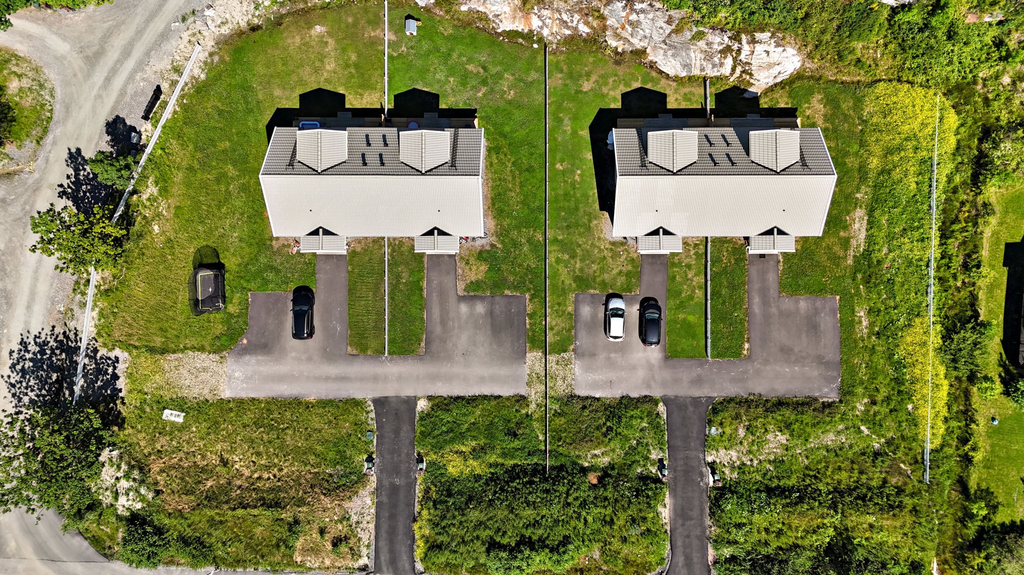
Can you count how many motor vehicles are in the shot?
three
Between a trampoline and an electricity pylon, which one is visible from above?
trampoline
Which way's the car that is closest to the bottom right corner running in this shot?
up and down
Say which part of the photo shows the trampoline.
left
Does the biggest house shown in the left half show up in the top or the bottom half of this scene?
top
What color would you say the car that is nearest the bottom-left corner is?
black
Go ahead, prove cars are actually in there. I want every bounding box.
[639,300,662,347]
[292,291,317,340]
[605,298,627,341]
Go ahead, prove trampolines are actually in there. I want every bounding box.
[188,268,228,313]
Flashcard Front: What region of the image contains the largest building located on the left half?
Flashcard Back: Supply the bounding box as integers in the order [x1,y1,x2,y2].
[258,127,484,255]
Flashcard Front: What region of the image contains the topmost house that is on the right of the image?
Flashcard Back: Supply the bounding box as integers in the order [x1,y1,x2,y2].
[610,127,842,255]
